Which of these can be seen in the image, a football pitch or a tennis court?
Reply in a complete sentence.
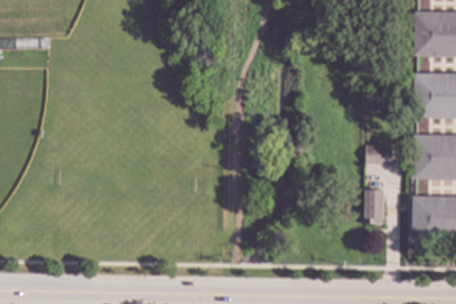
Visible in the photo is a football pitch.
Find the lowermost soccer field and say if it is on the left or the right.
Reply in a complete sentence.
The lowermost soccer field sits on the left side.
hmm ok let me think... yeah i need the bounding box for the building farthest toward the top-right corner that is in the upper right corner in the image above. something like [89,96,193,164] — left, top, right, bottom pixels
[416,11,456,56]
